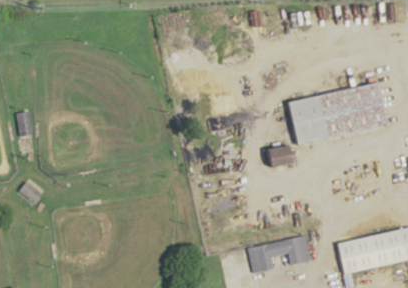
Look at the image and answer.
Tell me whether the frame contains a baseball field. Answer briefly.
Yes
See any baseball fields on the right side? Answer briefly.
No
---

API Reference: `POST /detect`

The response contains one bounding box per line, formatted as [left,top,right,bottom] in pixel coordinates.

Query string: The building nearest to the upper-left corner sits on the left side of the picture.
[16,110,32,136]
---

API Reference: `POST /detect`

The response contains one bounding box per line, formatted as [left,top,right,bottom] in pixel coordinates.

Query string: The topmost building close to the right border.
[289,83,388,144]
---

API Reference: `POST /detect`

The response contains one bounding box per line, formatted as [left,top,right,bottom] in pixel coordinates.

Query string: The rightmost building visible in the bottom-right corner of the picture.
[338,229,408,288]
